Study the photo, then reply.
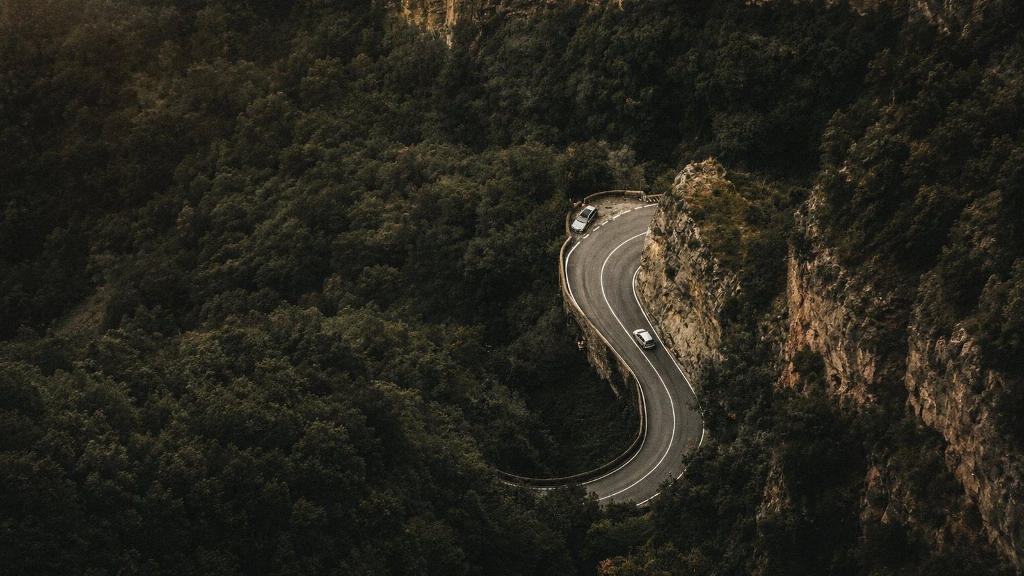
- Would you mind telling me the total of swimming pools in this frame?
0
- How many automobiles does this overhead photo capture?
2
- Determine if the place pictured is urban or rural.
rural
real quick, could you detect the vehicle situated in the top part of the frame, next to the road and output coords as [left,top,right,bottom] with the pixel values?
[573,205,598,231]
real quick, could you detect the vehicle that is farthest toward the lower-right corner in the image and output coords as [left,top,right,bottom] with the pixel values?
[634,329,656,351]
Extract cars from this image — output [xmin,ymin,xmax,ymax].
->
[573,205,598,231]
[634,329,656,351]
